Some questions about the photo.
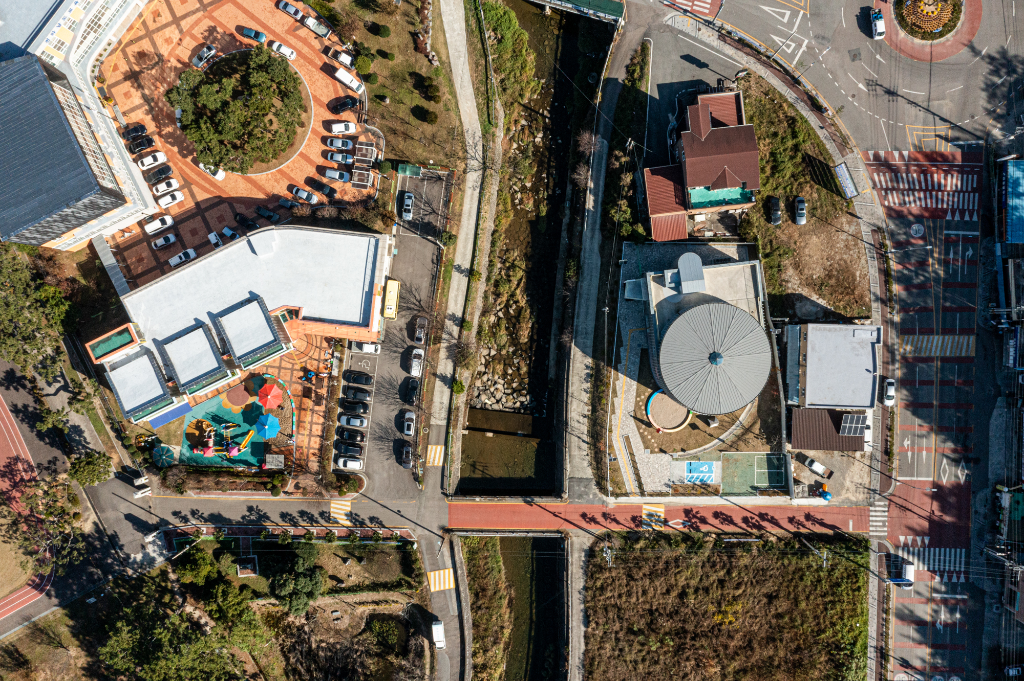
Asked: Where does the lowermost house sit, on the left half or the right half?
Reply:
right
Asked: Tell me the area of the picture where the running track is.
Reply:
bottom left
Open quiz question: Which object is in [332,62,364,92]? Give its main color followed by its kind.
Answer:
white truck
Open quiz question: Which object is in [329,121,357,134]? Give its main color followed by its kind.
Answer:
white vehicle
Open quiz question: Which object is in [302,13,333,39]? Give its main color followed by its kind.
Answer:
white truck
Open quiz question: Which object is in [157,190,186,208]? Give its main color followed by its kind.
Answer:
white car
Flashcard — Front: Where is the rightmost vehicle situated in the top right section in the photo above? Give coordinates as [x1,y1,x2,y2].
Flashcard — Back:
[870,9,888,41]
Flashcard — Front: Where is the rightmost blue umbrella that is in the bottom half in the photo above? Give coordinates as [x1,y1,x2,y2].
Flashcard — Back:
[255,412,294,440]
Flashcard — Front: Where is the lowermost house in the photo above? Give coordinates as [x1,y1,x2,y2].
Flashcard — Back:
[983,554,1024,624]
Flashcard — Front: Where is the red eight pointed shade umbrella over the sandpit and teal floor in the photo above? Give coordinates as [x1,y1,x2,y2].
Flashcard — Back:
[257,383,283,411]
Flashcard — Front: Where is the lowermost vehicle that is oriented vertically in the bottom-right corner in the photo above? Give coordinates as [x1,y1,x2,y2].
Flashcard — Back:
[898,553,918,592]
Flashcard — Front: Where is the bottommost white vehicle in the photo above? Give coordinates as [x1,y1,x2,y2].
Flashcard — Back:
[431,619,445,650]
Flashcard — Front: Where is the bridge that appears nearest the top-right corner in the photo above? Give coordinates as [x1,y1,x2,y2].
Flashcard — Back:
[530,0,626,26]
